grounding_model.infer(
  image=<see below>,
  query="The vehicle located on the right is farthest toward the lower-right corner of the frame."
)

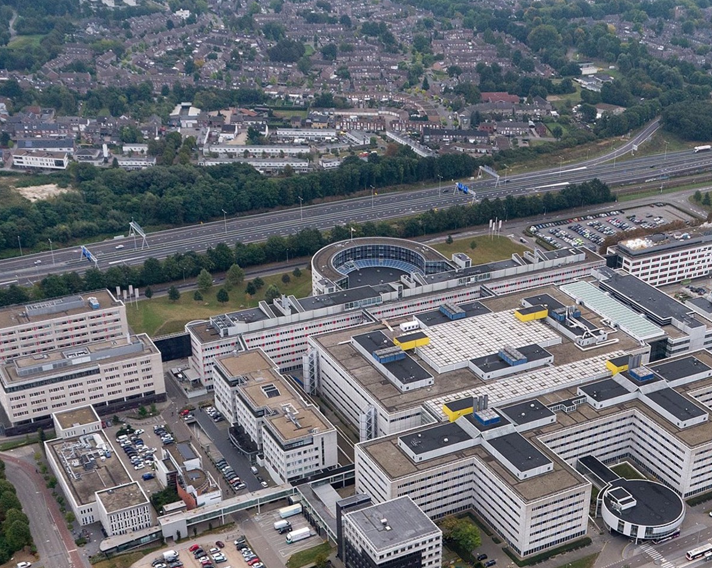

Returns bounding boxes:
[685,540,712,559]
